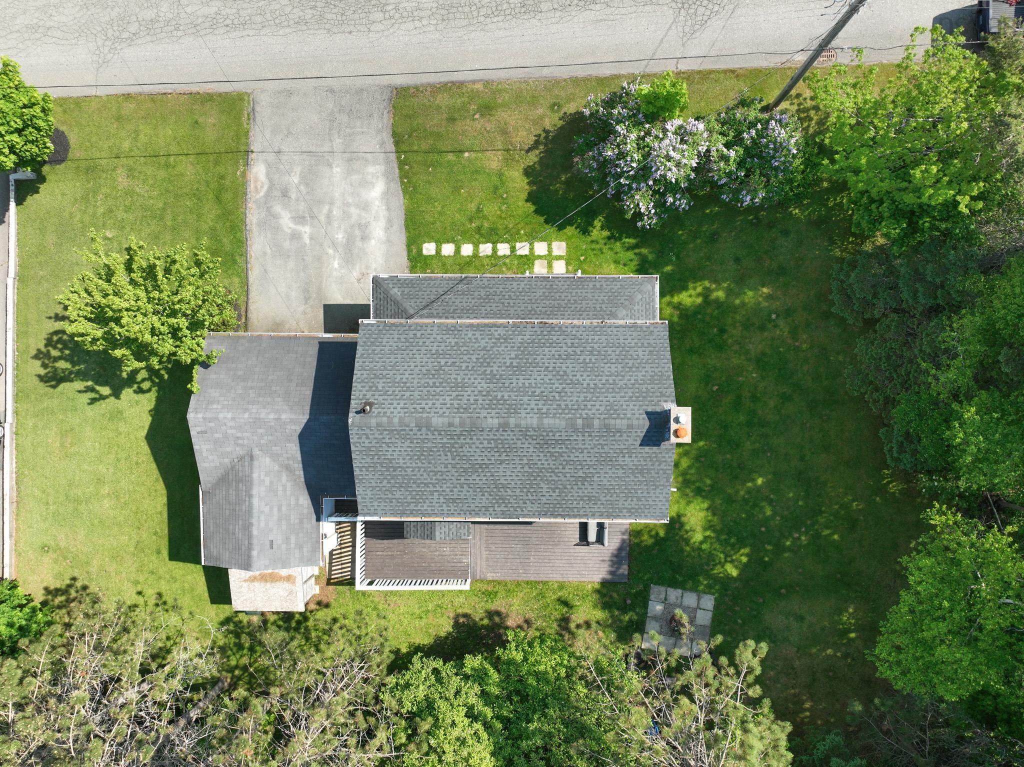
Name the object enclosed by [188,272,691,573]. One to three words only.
house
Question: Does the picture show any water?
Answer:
No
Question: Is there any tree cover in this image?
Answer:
Yes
